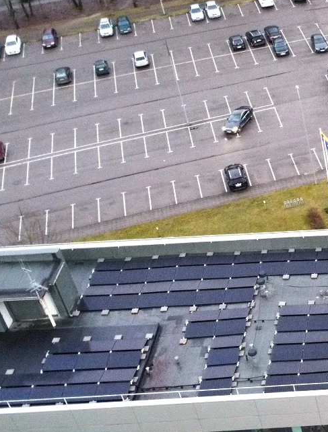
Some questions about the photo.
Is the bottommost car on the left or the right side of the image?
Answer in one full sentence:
You can find the bottommost car on the right side of the picture.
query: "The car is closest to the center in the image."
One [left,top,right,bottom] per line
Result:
[224,166,250,195]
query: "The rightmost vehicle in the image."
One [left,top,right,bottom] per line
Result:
[310,34,328,56]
